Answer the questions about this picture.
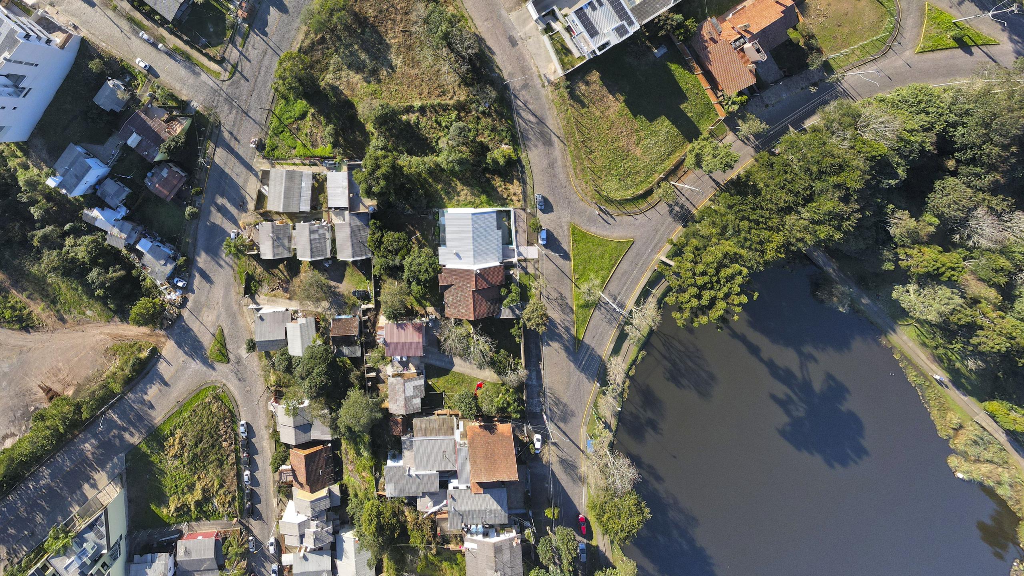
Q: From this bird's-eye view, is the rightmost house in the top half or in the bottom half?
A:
top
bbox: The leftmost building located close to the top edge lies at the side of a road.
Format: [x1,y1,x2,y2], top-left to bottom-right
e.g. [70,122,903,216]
[0,0,88,142]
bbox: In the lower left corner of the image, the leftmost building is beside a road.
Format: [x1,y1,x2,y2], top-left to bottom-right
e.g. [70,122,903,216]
[31,485,128,576]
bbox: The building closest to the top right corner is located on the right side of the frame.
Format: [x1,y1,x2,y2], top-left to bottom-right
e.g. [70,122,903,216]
[685,0,799,97]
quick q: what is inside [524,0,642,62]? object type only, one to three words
house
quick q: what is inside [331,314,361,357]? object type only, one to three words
house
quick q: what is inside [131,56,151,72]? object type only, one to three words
car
